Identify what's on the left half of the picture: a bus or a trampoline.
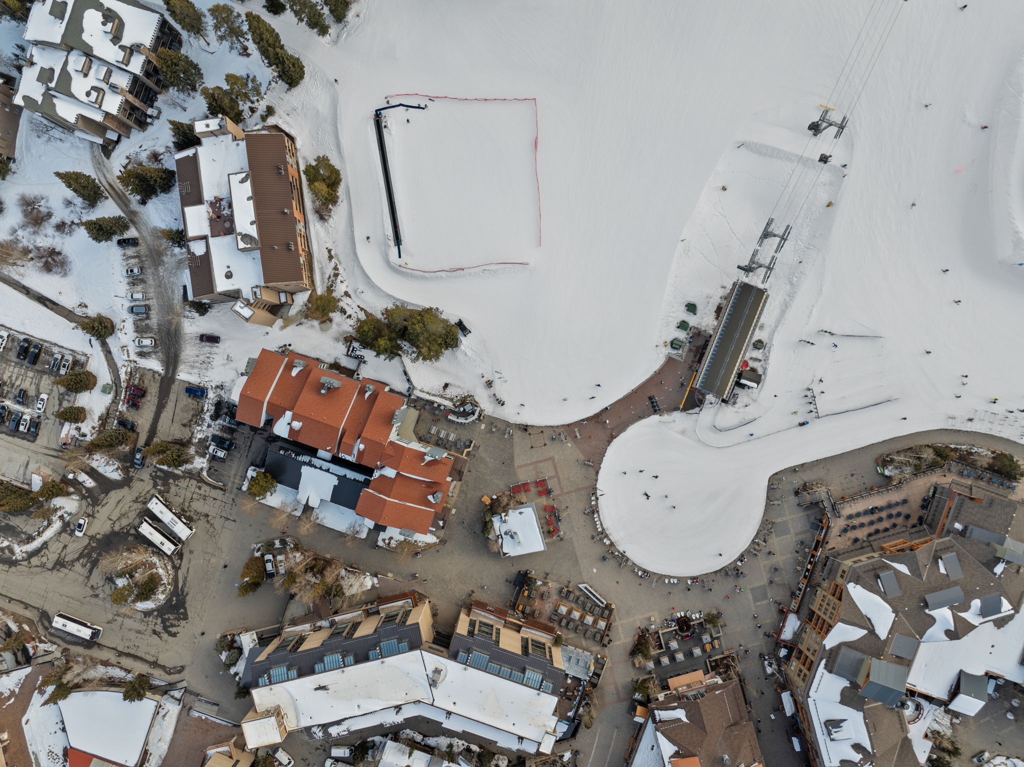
bus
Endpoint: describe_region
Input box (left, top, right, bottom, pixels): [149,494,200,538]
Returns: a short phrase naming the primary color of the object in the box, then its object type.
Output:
white bus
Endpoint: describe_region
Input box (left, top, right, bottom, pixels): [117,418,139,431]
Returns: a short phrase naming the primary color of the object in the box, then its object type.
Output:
black vehicle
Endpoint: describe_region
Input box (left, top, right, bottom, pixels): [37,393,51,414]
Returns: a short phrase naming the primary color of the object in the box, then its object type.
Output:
white car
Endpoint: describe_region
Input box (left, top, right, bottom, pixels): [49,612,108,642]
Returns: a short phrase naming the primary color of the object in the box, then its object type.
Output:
white bus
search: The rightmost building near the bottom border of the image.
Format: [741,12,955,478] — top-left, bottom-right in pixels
[773,480,1024,767]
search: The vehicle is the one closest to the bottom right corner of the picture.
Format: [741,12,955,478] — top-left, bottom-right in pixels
[969,747,991,765]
